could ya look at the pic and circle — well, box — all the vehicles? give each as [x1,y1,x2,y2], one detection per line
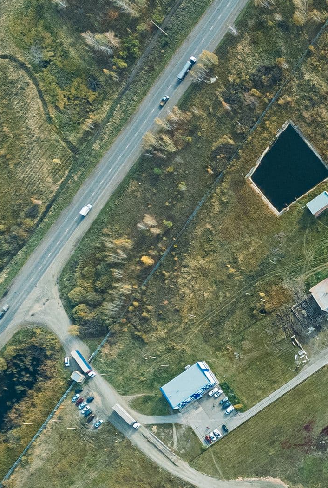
[112,404,145,431]
[72,394,81,402]
[178,57,199,82]
[205,436,212,444]
[160,96,168,107]
[78,402,87,410]
[86,414,95,423]
[74,387,84,394]
[210,431,217,440]
[81,204,93,216]
[84,410,93,418]
[65,357,70,367]
[82,406,91,414]
[222,401,232,409]
[220,397,228,404]
[75,397,84,406]
[86,396,94,404]
[224,406,235,414]
[213,389,222,397]
[213,429,221,438]
[208,387,219,396]
[70,351,100,379]
[221,424,228,434]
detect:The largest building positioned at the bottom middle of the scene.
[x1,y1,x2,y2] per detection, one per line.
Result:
[160,362,219,409]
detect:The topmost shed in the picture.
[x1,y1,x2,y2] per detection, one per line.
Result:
[306,191,328,214]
